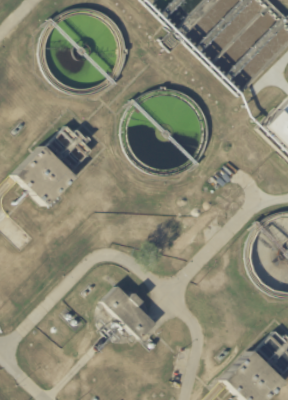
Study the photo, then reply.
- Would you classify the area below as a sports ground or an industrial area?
industrial area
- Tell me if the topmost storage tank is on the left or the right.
left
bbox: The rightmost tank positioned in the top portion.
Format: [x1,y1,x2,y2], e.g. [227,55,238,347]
[119,88,208,175]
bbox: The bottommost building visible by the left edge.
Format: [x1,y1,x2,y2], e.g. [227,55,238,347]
[10,146,76,207]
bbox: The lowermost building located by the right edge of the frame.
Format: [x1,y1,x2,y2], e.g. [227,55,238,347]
[219,350,286,400]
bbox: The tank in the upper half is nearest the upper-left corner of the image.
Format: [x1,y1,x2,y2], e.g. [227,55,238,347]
[37,8,126,95]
